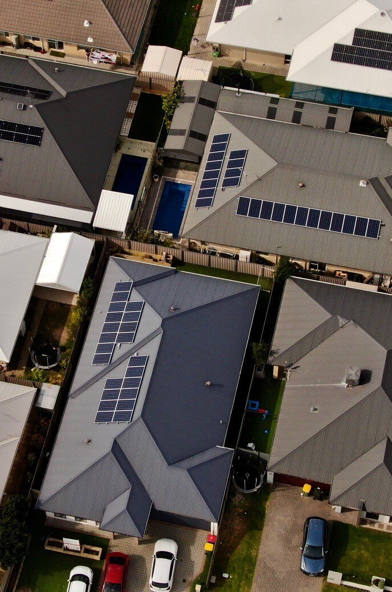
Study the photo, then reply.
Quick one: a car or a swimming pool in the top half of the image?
swimming pool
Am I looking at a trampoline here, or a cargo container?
trampoline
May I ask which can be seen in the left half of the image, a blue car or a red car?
red car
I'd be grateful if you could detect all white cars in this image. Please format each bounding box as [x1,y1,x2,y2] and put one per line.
[149,538,180,592]
[63,564,93,592]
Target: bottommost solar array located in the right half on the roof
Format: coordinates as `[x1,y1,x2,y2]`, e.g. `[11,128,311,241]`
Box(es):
[237,197,381,239]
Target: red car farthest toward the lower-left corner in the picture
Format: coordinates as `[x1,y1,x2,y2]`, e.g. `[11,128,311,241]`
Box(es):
[97,550,130,592]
